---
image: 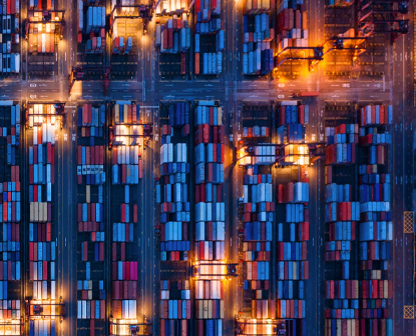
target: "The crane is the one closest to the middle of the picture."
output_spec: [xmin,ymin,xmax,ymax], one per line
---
[233,142,283,163]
